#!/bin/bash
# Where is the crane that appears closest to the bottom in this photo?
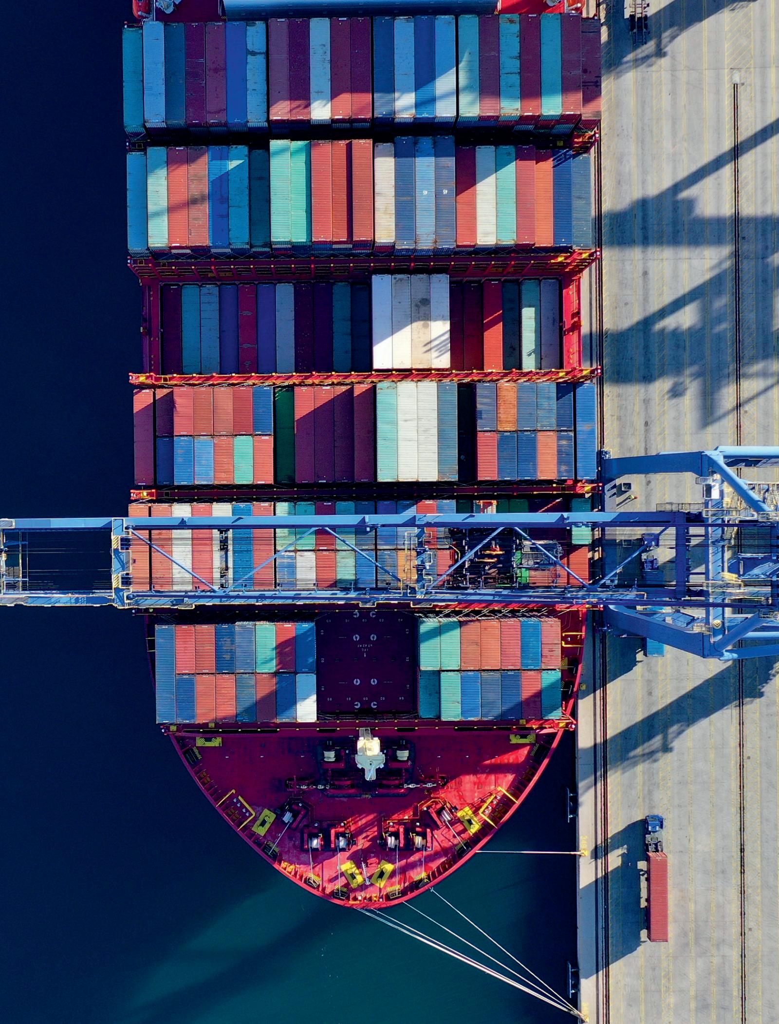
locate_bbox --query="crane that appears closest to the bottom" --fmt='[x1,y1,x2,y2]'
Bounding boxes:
[0,438,779,663]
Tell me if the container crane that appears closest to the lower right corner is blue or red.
blue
